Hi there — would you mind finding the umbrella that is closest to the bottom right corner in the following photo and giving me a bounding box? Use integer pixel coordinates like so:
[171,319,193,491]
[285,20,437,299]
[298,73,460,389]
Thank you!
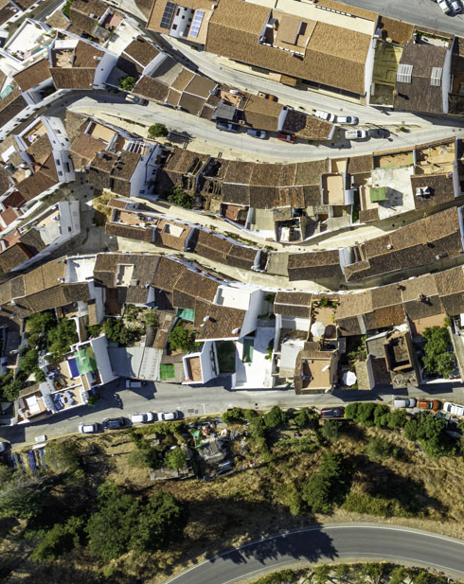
[340,375,354,388]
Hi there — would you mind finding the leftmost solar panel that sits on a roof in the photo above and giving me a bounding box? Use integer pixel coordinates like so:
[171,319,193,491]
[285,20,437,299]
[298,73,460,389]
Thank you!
[160,1,176,28]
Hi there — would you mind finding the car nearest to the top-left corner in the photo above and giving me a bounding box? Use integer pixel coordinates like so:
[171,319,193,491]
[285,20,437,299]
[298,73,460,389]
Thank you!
[127,93,147,107]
